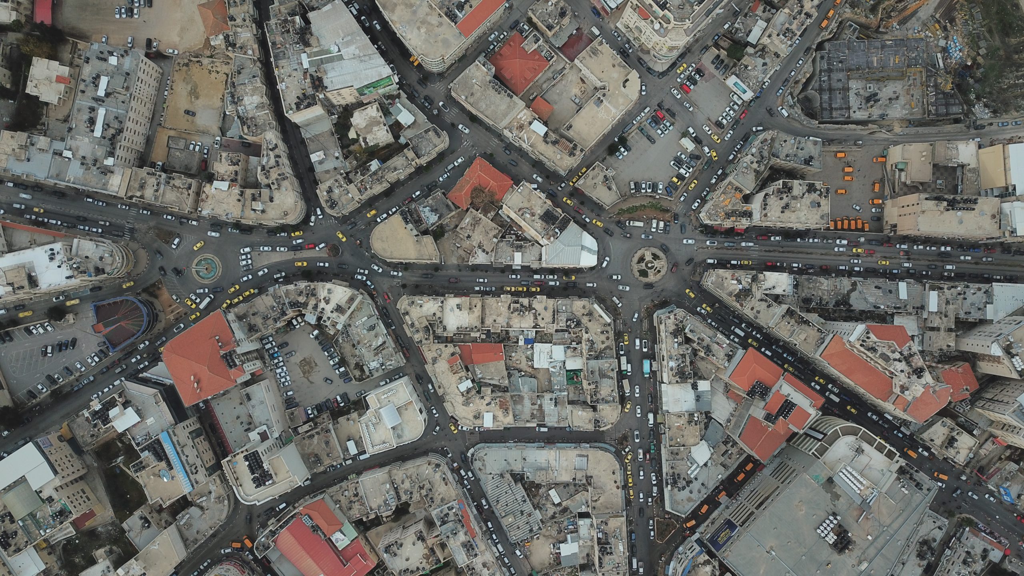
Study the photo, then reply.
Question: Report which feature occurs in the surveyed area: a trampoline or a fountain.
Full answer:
This aerial view contains a fountain.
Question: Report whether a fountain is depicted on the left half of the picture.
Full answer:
Yes, a fountain appears on the left half of the picture.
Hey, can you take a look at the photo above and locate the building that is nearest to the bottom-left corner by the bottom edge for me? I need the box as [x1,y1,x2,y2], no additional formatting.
[9,539,62,576]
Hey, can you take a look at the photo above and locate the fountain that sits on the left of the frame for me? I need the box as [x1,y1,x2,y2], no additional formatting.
[189,253,222,283]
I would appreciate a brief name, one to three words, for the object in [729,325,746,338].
vehicle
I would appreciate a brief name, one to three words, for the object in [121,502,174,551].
house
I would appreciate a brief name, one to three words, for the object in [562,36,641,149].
building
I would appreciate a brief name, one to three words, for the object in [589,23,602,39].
vehicle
